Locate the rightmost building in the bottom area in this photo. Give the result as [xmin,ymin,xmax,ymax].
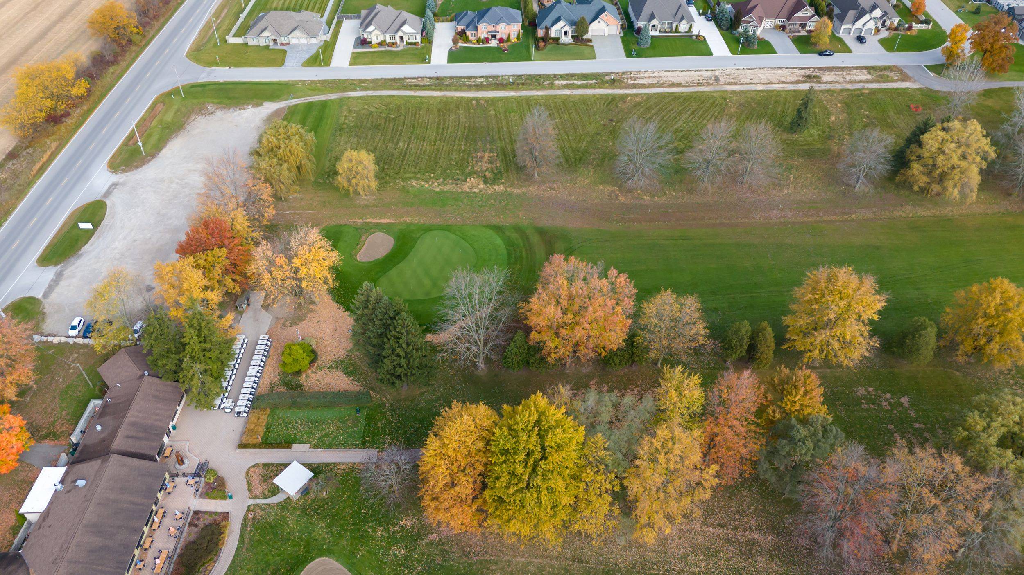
[272,461,319,508]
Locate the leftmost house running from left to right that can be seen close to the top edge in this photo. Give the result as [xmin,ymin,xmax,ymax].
[243,9,327,46]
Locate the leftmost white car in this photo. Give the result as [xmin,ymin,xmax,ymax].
[67,316,84,336]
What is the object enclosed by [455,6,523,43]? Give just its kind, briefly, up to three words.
house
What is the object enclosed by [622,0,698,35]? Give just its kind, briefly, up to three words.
house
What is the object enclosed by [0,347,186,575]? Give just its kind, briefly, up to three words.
building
